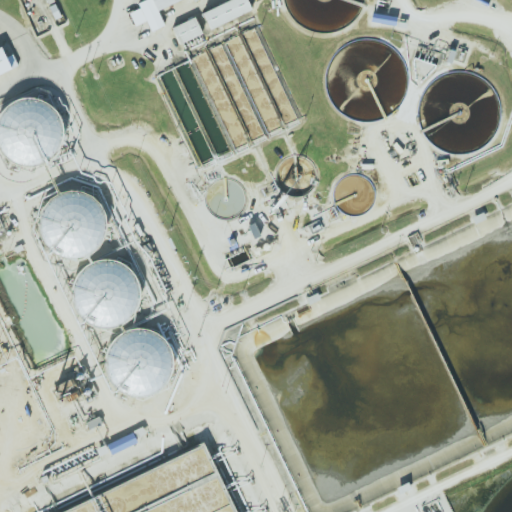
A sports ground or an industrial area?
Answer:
industrial area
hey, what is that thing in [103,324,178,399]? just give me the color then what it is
white storage tank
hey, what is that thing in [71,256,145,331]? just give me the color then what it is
white storage tank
